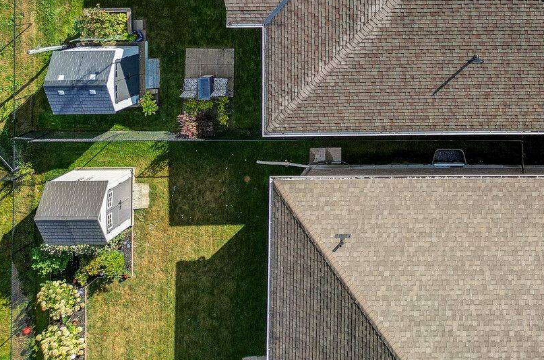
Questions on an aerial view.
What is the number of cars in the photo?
zero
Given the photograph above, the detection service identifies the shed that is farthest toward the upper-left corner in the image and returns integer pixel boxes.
[42,47,137,112]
